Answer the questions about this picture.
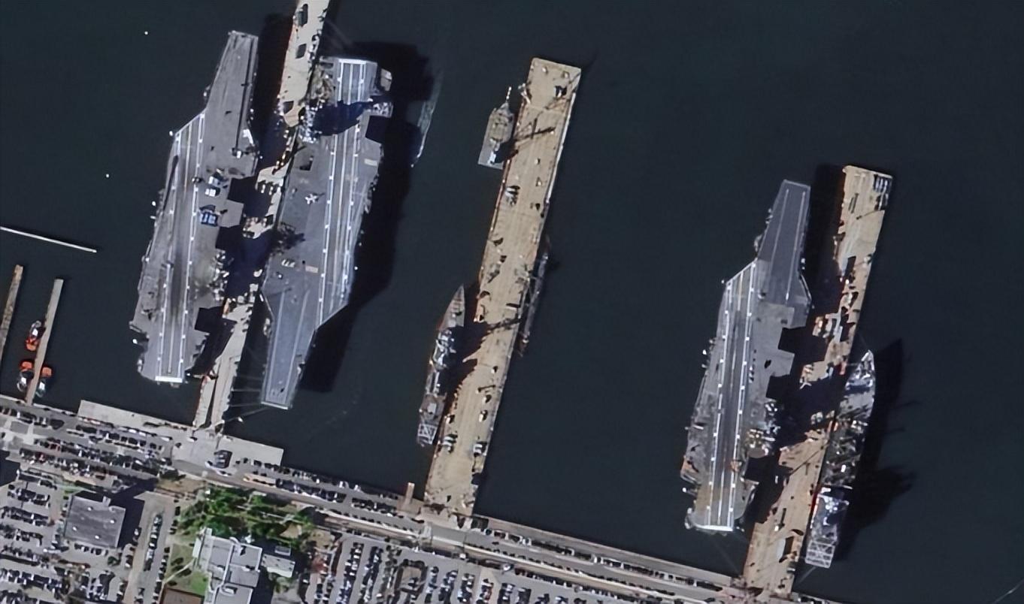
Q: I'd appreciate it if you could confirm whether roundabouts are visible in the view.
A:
No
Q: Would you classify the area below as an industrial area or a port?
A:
port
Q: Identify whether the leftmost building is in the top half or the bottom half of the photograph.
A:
bottom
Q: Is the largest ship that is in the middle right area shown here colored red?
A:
No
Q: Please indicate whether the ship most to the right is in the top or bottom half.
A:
bottom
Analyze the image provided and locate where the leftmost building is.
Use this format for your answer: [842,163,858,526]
[65,495,126,547]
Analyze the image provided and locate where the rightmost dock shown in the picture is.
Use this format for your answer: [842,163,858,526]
[741,166,893,599]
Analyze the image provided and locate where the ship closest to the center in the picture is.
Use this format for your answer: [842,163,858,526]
[523,250,548,353]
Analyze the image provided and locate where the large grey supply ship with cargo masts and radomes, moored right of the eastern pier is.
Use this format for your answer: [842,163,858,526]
[802,351,876,569]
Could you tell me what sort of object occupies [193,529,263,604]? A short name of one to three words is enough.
building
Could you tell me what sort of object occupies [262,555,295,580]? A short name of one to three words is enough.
building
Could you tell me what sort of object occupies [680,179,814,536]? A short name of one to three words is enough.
ship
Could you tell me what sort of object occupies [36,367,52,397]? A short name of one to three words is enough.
boat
